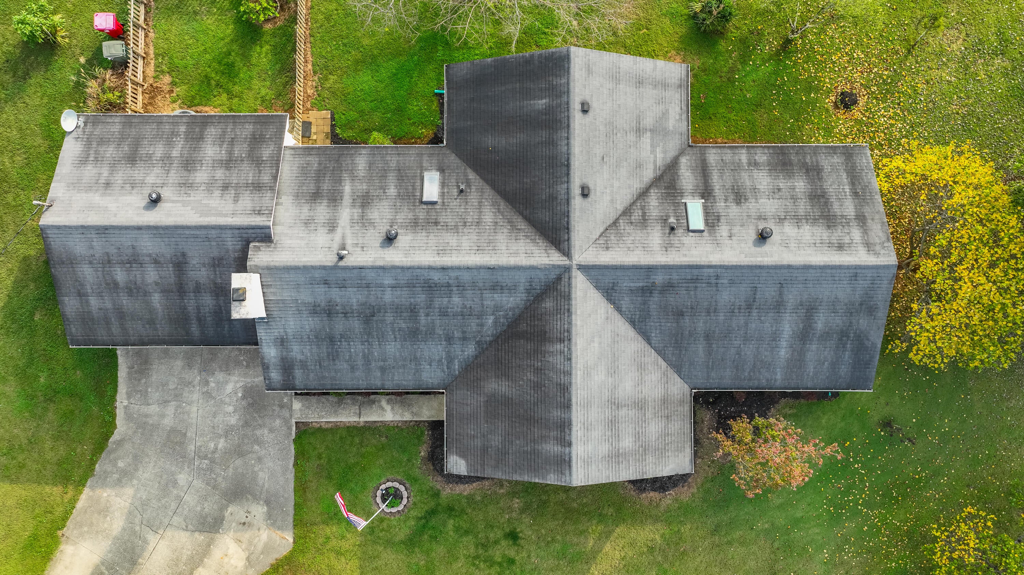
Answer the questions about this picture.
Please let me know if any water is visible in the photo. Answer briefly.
No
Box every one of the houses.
[31,46,898,487]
